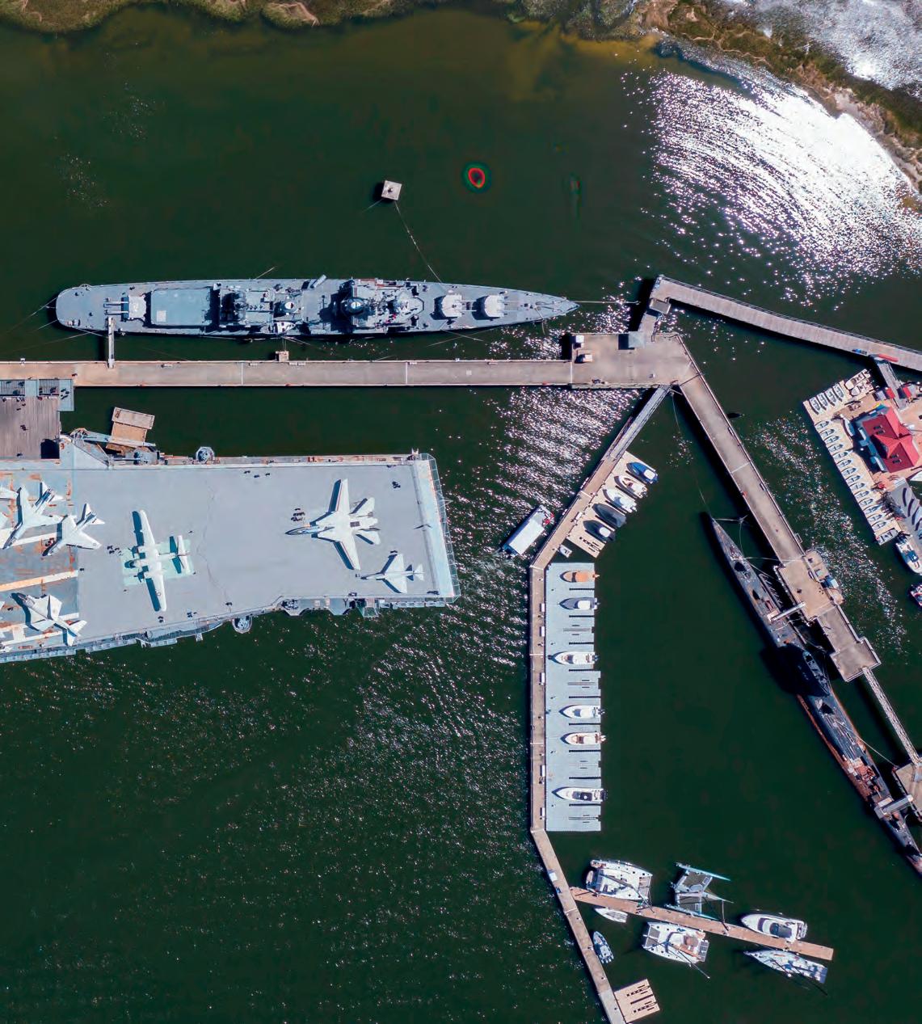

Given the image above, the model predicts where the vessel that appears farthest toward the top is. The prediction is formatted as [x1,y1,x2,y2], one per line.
[54,275,580,337]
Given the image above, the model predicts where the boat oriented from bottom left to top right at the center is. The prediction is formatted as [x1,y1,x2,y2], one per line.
[499,506,551,560]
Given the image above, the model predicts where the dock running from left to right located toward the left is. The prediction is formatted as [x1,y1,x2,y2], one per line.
[0,360,571,388]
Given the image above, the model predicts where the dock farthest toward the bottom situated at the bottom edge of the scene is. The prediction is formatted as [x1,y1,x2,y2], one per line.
[613,977,660,1023]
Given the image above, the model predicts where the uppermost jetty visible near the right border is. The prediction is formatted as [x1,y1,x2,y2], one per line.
[649,276,922,371]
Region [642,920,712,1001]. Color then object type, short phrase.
white boat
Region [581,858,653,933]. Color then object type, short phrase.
white boat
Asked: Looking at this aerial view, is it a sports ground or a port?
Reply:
port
